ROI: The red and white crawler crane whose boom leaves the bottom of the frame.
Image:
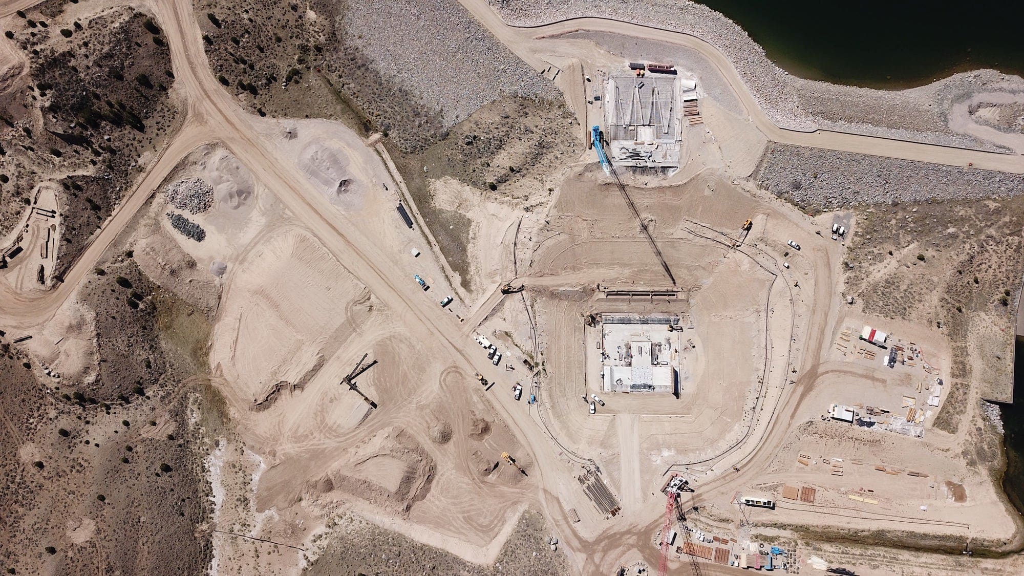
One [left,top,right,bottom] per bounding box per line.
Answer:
[653,470,685,576]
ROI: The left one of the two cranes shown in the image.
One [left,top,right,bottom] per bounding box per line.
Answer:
[588,124,611,178]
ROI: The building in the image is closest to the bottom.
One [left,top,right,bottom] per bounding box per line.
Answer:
[828,404,853,421]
